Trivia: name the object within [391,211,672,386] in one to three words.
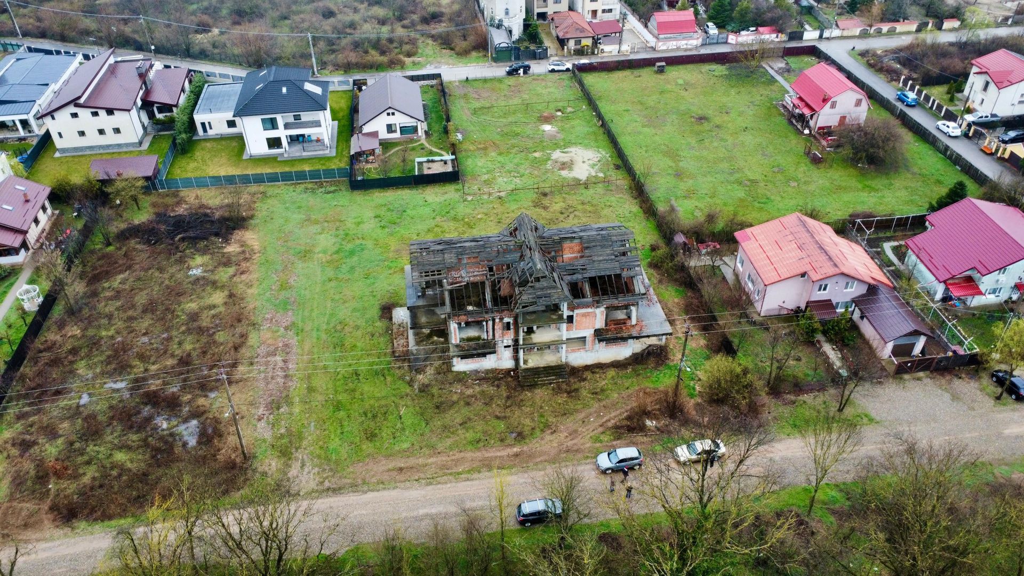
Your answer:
house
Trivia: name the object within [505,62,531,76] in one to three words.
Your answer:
car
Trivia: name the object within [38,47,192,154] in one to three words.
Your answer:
house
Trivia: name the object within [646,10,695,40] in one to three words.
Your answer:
building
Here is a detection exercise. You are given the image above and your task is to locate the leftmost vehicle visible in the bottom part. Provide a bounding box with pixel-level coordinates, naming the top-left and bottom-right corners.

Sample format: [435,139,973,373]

[514,498,567,528]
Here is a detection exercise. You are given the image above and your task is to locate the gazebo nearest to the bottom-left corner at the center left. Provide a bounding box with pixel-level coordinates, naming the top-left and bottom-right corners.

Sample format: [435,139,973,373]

[11,284,44,314]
